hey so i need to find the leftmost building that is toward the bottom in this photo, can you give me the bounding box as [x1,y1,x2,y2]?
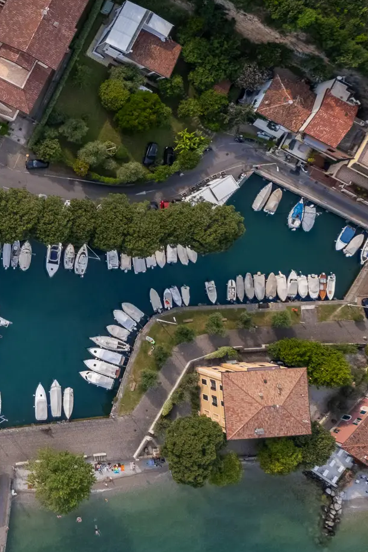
[197,362,313,441]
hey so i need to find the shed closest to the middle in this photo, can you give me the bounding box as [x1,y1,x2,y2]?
[180,175,239,208]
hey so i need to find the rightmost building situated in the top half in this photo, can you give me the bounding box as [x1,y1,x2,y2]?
[331,117,368,192]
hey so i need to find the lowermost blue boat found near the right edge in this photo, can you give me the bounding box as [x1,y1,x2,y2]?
[336,225,355,249]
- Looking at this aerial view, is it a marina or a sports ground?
marina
